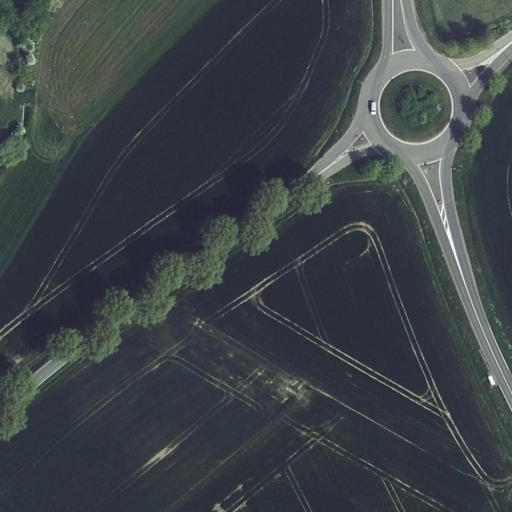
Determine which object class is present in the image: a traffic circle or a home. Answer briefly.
traffic circle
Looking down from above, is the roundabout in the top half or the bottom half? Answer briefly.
top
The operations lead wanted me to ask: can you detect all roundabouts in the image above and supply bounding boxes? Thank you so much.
[359,50,473,164]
